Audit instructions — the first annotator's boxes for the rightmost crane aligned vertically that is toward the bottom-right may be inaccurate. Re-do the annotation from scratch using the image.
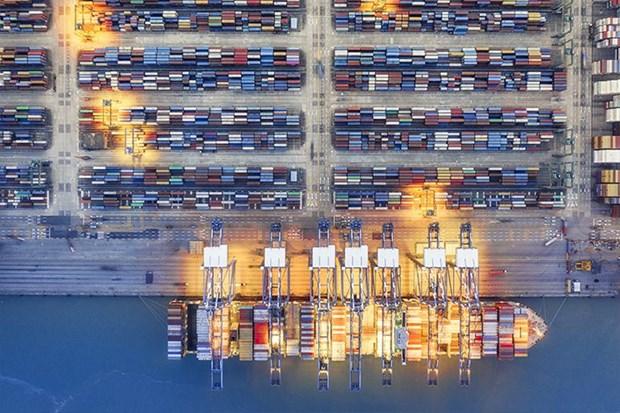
[440,222,482,387]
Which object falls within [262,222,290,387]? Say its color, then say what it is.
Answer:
white container crane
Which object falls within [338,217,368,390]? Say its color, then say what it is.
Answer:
white container crane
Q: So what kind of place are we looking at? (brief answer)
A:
port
